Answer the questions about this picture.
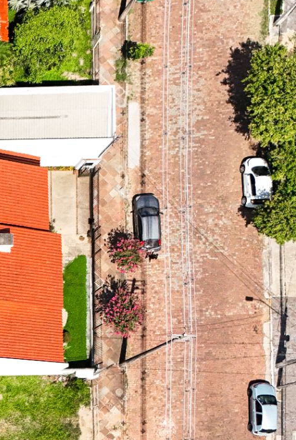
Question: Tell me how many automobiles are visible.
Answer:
3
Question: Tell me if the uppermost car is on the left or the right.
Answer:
right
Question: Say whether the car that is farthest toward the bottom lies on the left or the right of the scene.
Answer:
right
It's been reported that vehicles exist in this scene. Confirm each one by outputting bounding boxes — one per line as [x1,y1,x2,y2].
[240,154,276,211]
[130,193,167,258]
[247,382,283,436]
